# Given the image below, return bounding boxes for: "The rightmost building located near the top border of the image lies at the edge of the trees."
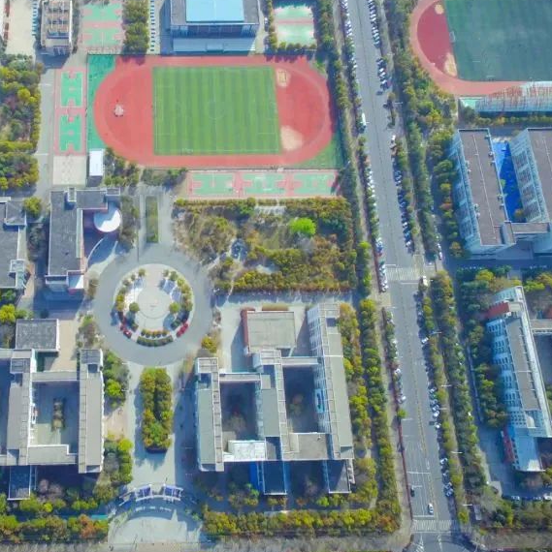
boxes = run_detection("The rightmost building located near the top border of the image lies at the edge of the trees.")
[170,0,260,59]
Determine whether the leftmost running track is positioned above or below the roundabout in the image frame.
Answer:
above it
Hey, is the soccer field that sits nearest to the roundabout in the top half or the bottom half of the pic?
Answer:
top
